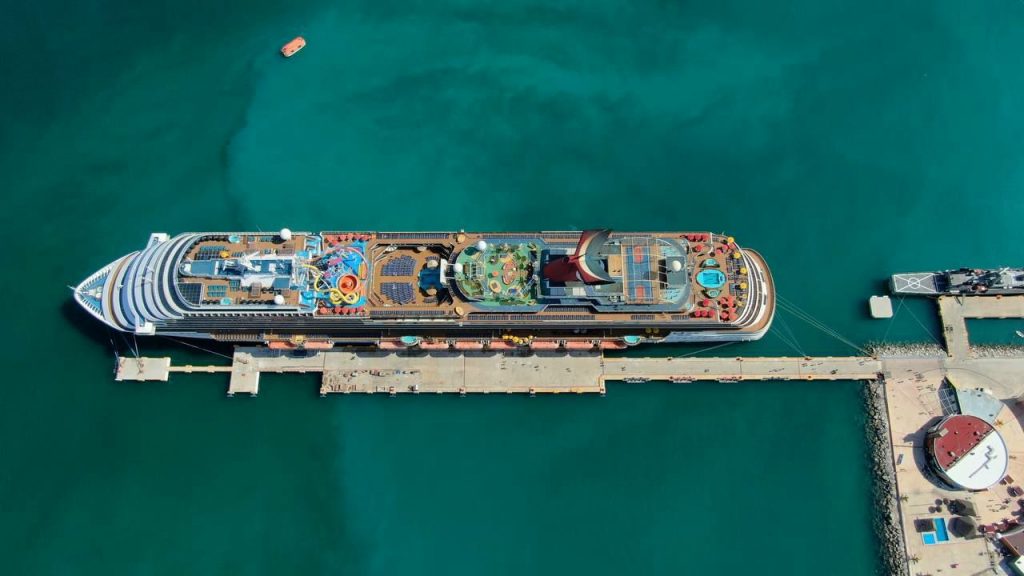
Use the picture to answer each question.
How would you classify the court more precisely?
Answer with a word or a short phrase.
basketball court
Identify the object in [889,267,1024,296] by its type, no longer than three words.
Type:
ship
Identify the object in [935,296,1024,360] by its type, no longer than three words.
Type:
pier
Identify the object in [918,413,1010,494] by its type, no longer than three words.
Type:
building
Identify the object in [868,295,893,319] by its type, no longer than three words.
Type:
pier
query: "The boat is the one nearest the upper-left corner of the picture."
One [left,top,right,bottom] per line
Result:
[281,40,303,54]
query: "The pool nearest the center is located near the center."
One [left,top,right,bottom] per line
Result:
[421,268,440,290]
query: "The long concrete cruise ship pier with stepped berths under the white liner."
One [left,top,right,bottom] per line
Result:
[116,346,883,399]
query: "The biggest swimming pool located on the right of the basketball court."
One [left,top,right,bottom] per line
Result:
[696,269,726,288]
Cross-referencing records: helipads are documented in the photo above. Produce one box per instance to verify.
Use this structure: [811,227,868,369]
[894,274,936,293]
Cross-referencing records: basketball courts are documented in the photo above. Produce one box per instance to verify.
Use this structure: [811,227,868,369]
[623,238,697,306]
